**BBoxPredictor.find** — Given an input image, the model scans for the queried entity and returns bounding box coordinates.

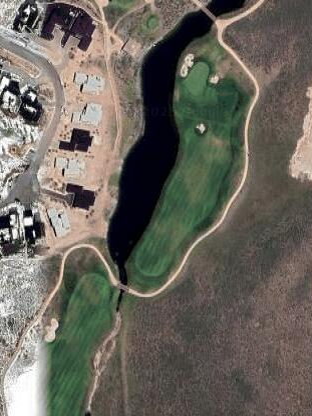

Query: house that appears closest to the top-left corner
[12,0,37,34]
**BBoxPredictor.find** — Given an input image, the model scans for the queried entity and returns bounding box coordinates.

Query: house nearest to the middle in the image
[66,183,95,211]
